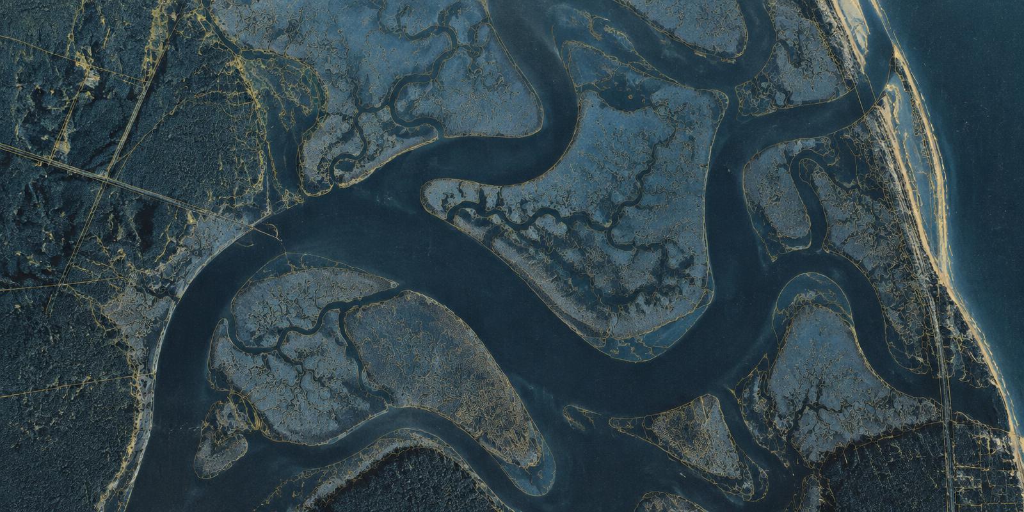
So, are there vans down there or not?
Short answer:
No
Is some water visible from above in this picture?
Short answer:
Yes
